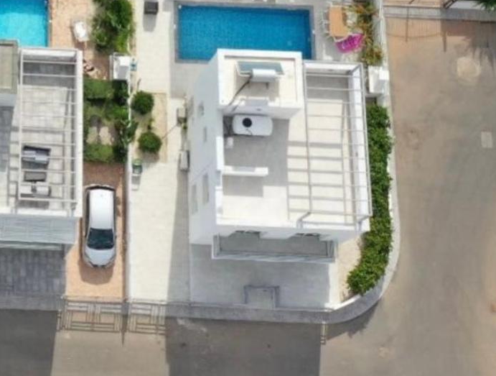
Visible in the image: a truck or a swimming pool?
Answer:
swimming pool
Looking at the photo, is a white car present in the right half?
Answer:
No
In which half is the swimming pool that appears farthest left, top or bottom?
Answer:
top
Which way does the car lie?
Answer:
up and down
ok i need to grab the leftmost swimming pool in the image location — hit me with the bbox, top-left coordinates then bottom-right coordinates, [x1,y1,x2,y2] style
[0,0,53,49]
